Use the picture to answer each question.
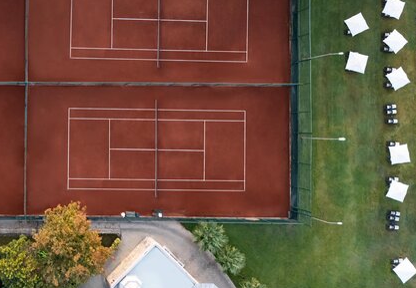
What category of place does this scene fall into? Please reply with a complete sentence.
It's a sports ground.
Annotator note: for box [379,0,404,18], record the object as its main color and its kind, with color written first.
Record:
white umbrella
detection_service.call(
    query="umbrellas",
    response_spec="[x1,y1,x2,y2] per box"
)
[383,180,409,202]
[383,66,410,91]
[385,144,410,165]
[391,258,416,283]
[379,0,404,18]
[381,29,407,54]
[344,52,368,73]
[343,12,368,36]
